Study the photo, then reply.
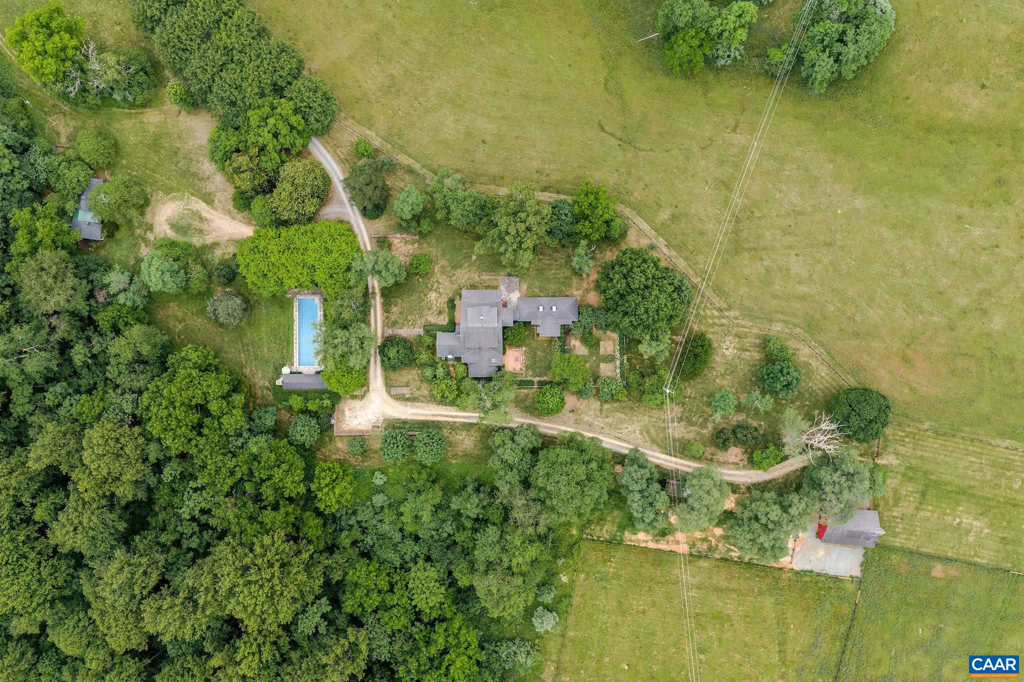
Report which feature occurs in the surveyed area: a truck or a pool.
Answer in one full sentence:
There is a pool in the scene.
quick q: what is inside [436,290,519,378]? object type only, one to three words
house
